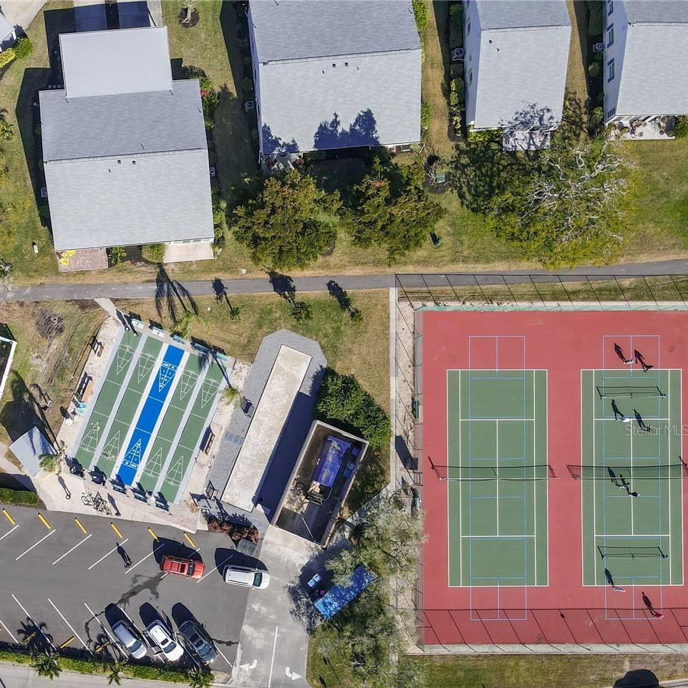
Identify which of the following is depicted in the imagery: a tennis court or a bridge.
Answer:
tennis court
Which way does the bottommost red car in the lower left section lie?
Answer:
from side to side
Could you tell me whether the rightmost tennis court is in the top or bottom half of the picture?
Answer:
bottom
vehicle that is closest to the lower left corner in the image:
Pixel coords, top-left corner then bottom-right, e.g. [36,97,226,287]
[111,620,149,661]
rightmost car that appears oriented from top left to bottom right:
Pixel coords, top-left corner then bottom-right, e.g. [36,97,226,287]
[179,622,219,665]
